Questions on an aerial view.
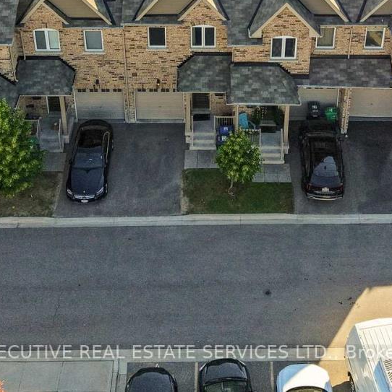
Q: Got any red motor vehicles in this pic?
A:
No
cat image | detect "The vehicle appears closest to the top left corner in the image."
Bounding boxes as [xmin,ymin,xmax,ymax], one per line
[62,117,114,194]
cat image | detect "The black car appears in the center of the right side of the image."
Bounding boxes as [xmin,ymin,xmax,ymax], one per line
[294,117,347,191]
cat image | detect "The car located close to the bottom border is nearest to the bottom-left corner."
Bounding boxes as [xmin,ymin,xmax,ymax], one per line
[123,359,180,392]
